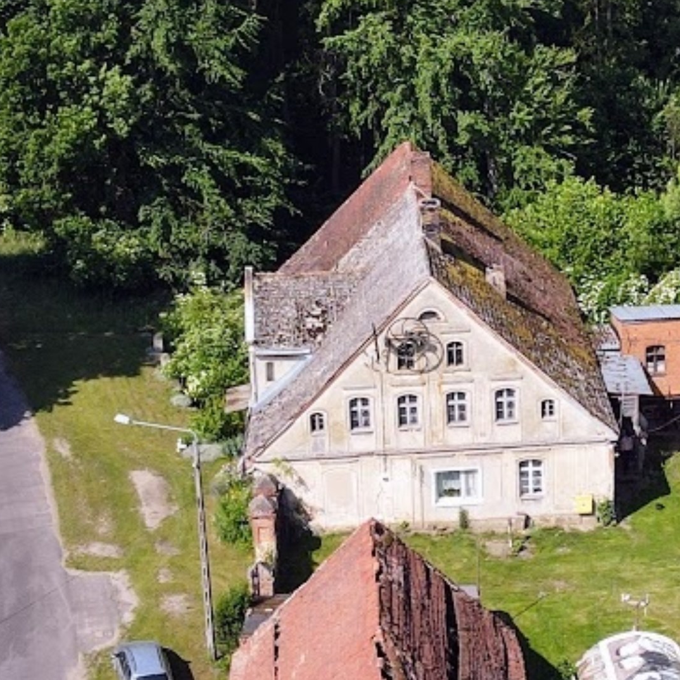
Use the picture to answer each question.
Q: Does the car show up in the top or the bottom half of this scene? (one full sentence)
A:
Seen from above, the car lies in the bottom half of the view.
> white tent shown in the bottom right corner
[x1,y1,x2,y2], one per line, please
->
[578,636,680,680]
